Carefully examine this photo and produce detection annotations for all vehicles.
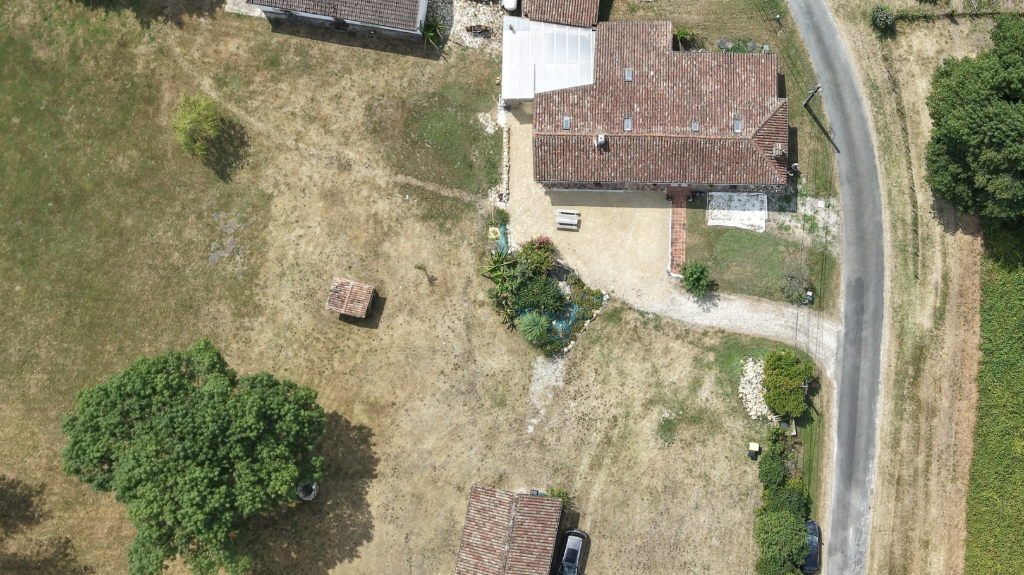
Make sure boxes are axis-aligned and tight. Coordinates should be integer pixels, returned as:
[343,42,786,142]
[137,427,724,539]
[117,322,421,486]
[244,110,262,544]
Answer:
[796,519,823,575]
[555,527,586,575]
